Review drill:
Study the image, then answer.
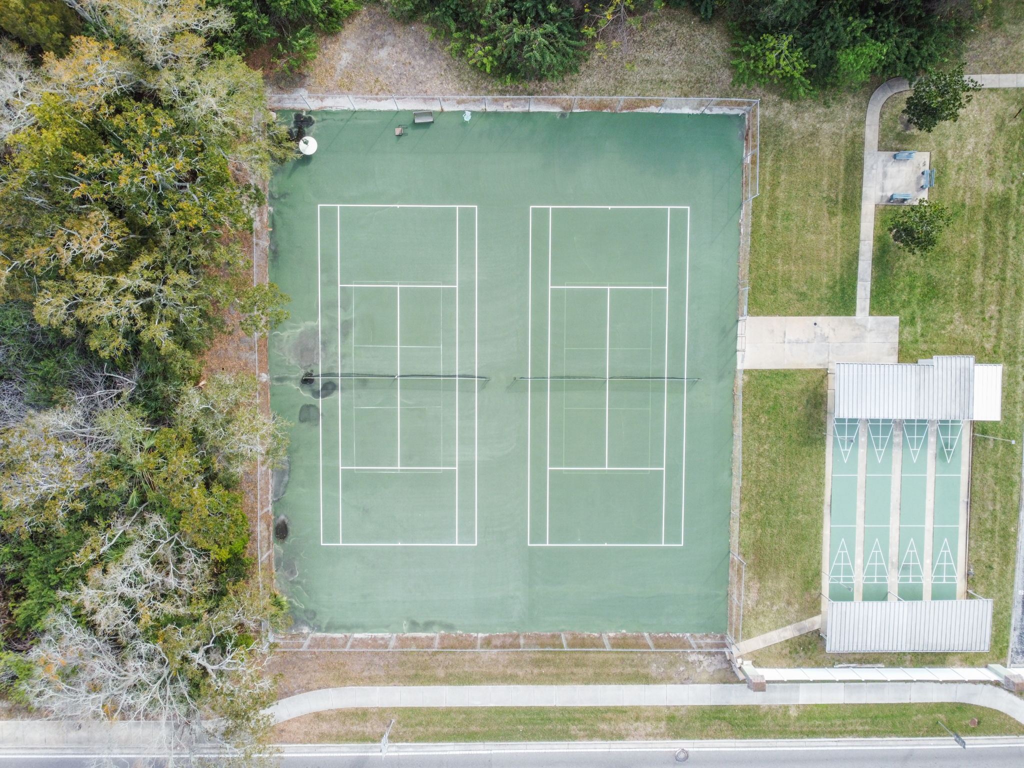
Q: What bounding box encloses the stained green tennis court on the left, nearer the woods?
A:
[268,110,530,635]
